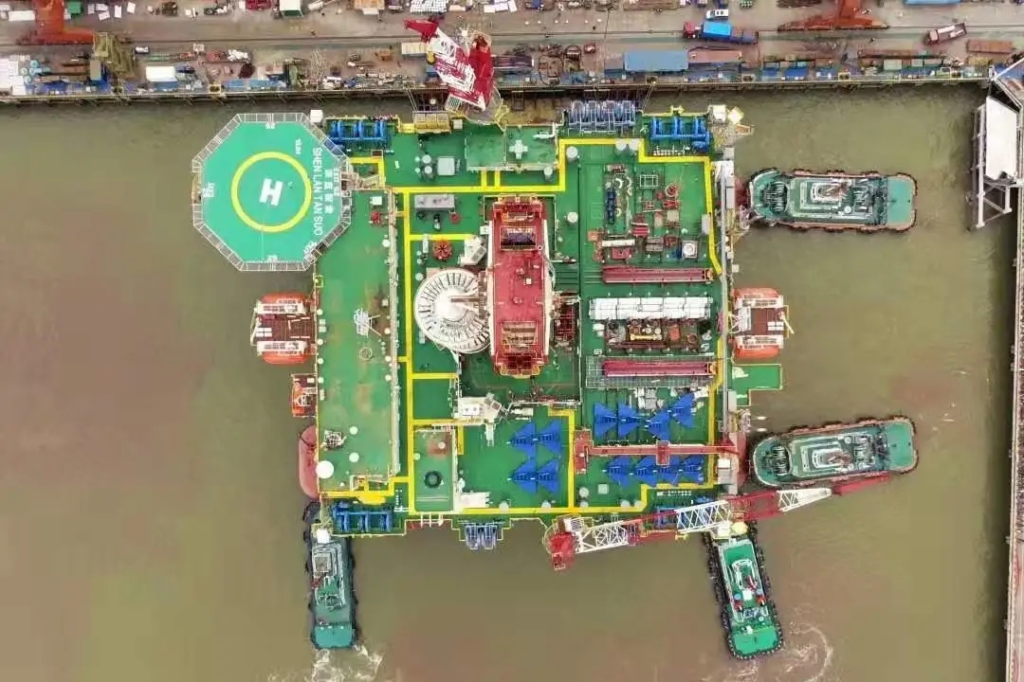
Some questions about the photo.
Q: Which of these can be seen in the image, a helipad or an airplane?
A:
helipad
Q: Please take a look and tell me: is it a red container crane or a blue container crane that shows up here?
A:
red container crane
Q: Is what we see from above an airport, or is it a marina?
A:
marina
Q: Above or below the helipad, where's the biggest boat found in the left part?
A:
below it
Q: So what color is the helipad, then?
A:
green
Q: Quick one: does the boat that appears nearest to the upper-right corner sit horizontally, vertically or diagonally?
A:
horizontally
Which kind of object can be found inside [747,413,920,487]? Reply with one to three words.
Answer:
boat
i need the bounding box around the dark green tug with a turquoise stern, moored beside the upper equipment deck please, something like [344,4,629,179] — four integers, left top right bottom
[745,167,919,234]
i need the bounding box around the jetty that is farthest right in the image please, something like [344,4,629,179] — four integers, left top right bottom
[994,80,1024,682]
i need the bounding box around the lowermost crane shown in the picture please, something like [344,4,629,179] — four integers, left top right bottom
[542,474,896,569]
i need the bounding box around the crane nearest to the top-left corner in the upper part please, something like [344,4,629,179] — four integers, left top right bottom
[26,0,93,40]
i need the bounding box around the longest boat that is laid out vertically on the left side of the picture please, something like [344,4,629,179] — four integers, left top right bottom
[302,498,362,653]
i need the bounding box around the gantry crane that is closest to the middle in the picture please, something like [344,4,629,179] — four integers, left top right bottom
[573,426,739,474]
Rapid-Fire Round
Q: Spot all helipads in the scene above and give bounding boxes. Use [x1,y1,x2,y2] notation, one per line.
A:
[191,112,377,271]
